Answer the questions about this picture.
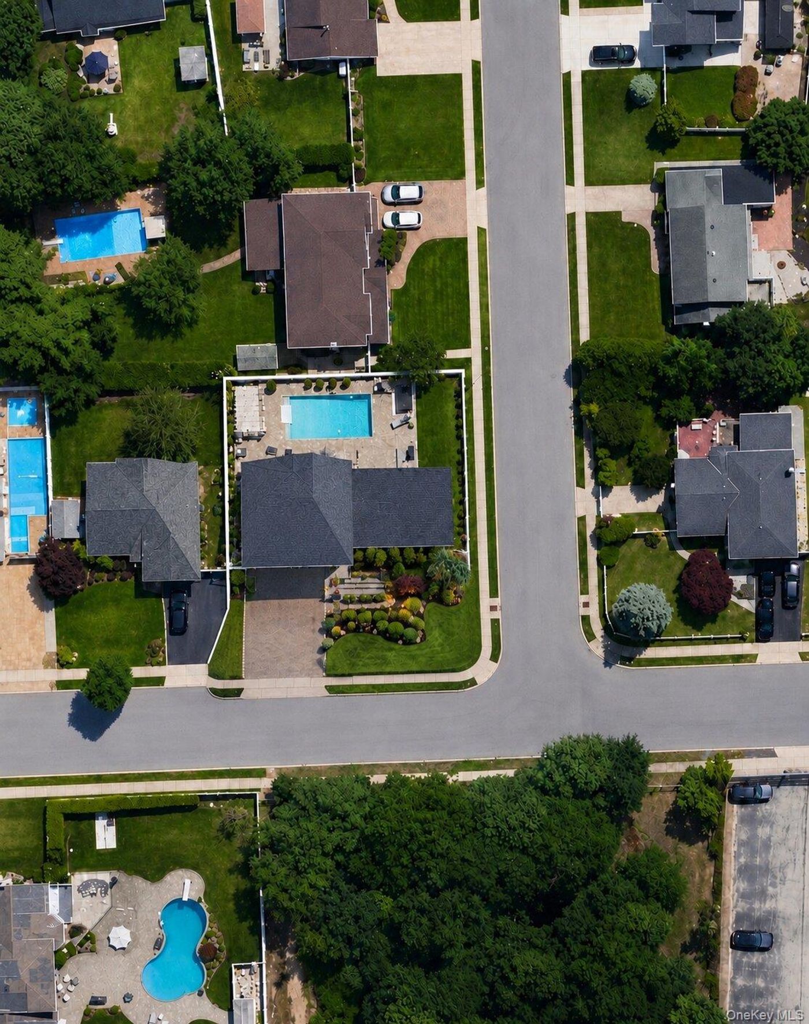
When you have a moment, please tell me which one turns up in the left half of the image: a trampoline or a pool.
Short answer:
pool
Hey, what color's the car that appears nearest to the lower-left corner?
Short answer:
black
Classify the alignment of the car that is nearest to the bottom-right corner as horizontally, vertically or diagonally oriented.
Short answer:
horizontally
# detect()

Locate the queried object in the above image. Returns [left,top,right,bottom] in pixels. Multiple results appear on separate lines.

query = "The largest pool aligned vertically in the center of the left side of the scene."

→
[6,436,47,555]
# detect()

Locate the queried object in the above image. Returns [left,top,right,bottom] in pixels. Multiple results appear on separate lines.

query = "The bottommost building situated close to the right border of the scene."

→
[665,412,803,560]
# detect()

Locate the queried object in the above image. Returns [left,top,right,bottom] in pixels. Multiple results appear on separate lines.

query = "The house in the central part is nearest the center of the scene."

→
[240,452,454,568]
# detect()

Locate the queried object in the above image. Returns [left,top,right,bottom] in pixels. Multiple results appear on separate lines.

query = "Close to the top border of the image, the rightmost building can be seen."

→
[765,0,795,50]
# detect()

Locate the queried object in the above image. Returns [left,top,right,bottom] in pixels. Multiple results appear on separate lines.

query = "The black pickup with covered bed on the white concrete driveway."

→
[591,42,637,64]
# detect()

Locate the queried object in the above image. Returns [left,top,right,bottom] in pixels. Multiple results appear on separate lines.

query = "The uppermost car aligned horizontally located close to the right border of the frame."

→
[729,783,774,805]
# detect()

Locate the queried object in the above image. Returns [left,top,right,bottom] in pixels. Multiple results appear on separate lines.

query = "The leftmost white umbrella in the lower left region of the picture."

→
[108,925,131,948]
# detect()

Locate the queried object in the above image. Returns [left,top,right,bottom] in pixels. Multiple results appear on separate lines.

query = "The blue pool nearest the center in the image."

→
[281,392,375,441]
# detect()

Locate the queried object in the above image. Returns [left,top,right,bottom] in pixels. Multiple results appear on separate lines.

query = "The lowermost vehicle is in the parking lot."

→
[730,931,774,952]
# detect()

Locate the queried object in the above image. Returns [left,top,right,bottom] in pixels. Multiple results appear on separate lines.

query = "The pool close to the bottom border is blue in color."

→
[139,895,209,1004]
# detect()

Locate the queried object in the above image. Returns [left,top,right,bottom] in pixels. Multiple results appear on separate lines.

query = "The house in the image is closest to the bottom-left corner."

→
[0,882,73,1024]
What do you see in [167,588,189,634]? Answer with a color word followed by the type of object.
black car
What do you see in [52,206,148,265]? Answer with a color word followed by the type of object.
blue swimming pool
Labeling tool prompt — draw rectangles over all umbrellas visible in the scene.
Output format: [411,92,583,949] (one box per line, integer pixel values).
[381,380,392,392]
[84,51,109,75]
[108,925,131,948]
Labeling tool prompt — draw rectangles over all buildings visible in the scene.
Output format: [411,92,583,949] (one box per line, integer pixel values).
[236,343,278,371]
[665,164,776,329]
[665,412,803,560]
[38,0,193,37]
[51,500,80,539]
[240,452,454,568]
[285,0,379,61]
[765,0,795,50]
[0,882,73,1024]
[85,457,201,582]
[232,998,256,1024]
[235,0,265,34]
[243,192,390,350]
[651,0,745,49]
